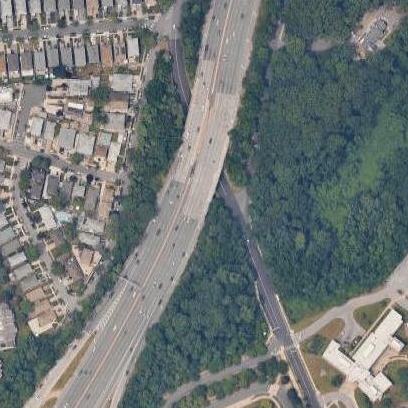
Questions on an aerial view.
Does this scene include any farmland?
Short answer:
No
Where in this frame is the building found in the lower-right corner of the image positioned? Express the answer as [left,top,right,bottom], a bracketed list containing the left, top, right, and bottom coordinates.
[321,310,405,403]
